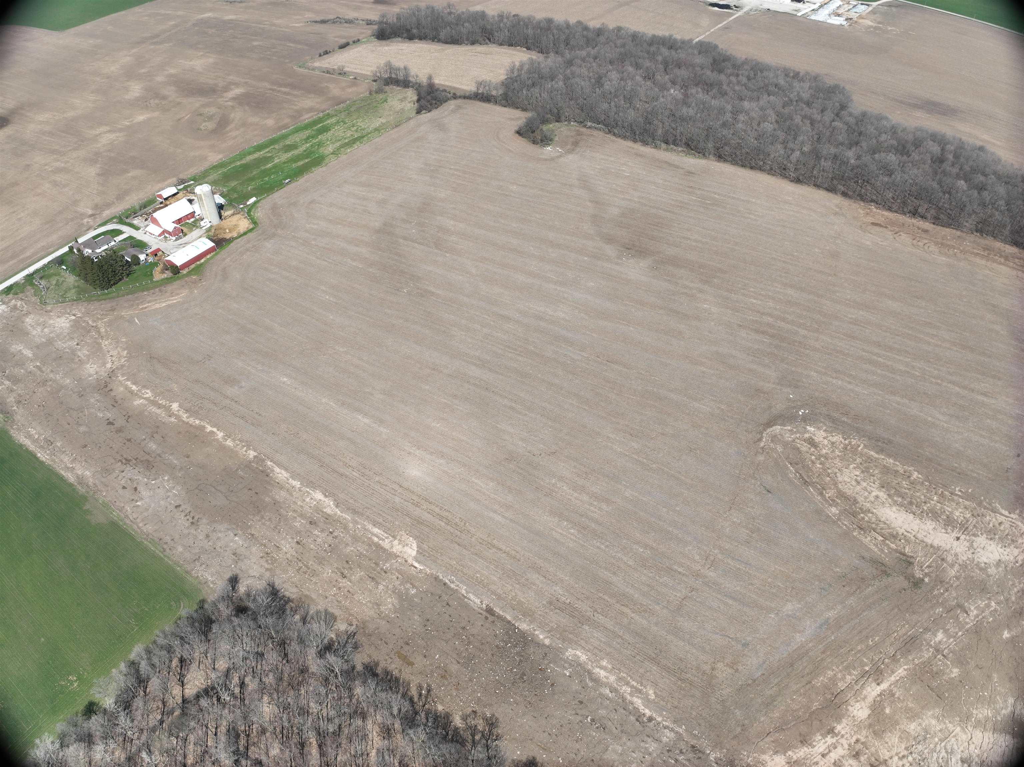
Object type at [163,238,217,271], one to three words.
shed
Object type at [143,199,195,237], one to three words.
barn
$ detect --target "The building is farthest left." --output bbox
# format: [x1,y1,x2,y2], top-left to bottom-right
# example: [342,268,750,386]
[61,234,116,265]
